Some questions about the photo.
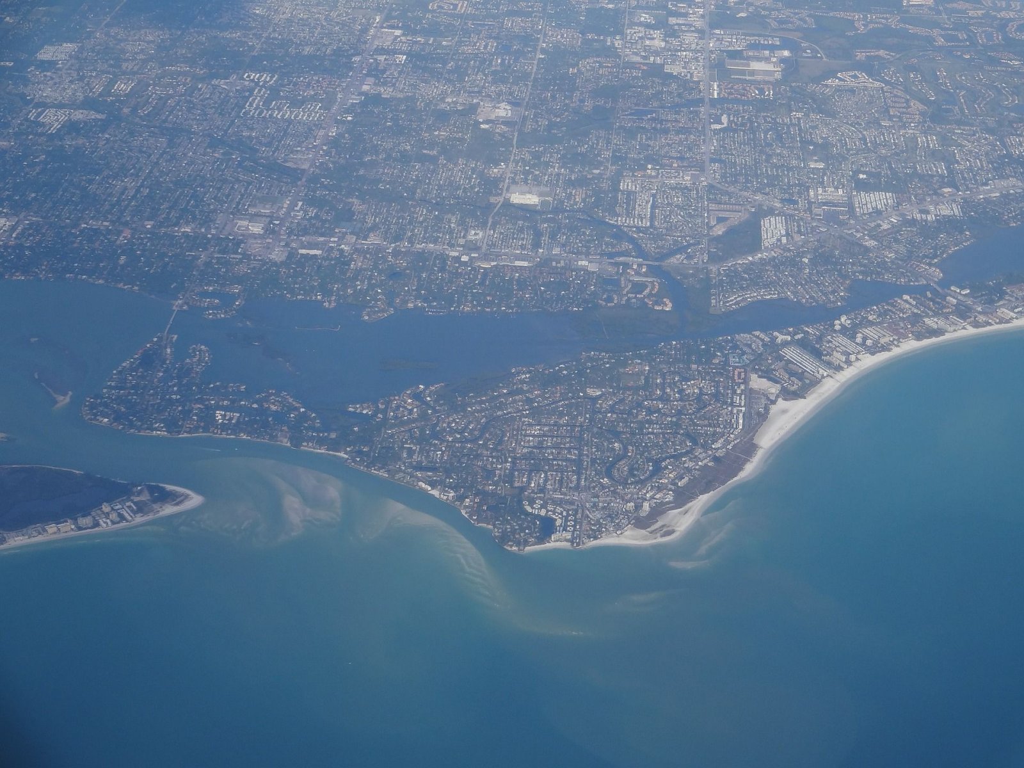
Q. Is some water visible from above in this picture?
Yes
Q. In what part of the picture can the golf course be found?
top right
